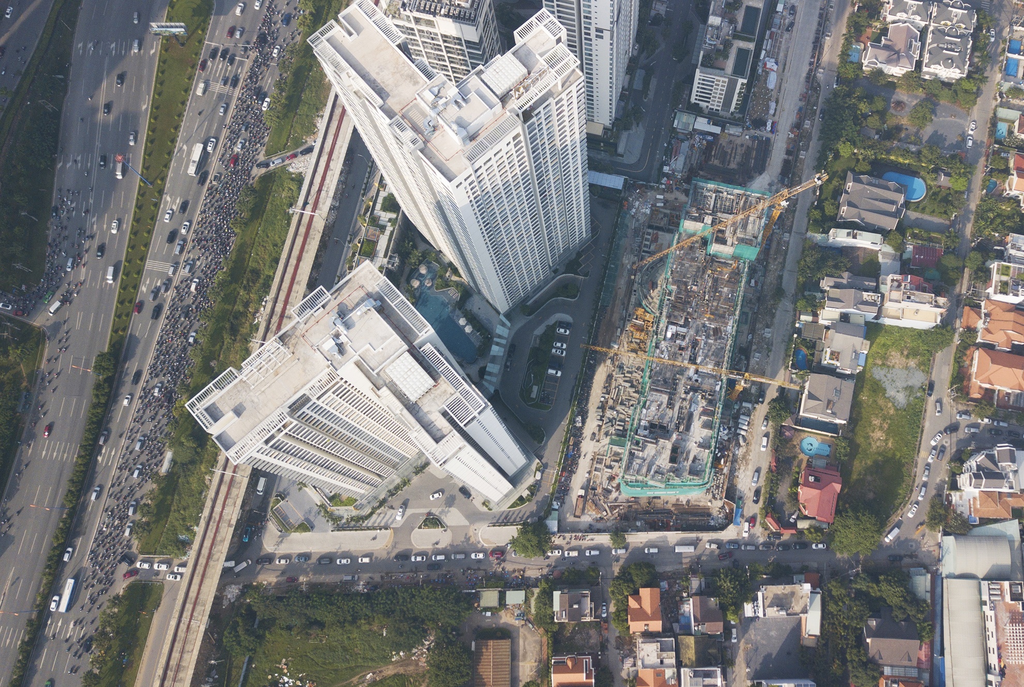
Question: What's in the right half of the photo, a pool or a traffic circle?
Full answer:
You can see a pool in the right half of the photo.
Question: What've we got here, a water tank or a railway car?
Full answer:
The one in the frame is a water tank.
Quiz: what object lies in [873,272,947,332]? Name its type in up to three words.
house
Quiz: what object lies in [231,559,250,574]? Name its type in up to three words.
vehicle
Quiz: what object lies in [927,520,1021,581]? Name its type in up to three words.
building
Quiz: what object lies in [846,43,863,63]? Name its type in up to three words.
swimming pool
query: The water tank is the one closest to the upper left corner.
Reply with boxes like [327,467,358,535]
[480,48,531,97]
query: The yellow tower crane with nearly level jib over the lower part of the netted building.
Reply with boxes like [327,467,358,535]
[581,344,804,412]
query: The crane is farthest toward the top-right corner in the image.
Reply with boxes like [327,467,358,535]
[633,172,829,282]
